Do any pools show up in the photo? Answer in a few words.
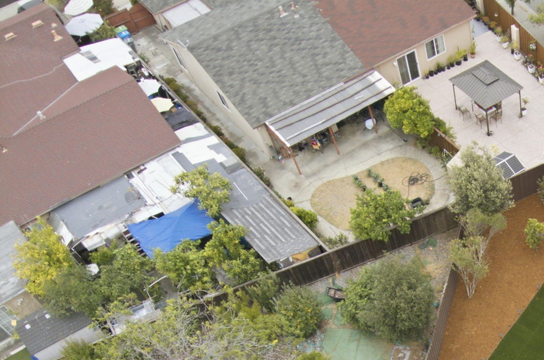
No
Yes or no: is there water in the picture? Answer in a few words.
No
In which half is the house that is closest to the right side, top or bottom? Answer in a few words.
top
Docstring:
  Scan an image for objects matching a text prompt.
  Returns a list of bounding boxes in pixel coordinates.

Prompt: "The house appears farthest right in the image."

[142,0,476,175]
